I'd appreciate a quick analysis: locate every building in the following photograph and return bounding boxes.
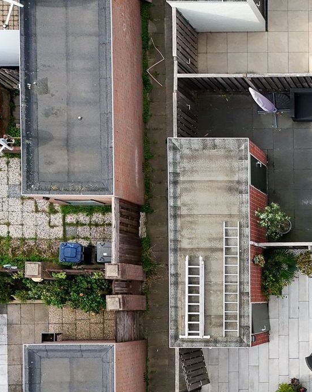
[168,0,272,28]
[25,340,145,392]
[168,138,270,347]
[20,0,144,205]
